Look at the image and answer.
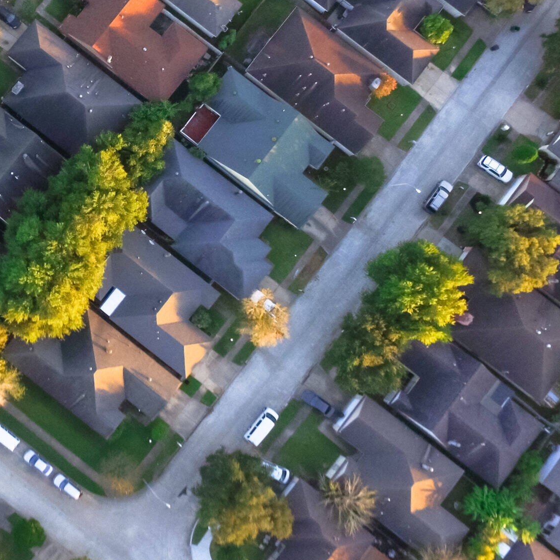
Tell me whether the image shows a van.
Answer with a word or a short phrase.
Yes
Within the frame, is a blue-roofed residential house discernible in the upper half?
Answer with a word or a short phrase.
Yes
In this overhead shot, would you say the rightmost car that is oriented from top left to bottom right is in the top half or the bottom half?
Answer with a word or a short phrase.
top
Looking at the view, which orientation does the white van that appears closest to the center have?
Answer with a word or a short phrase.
on a diagonal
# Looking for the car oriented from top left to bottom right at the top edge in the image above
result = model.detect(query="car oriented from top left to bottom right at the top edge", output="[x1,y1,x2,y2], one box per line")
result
[0,2,25,32]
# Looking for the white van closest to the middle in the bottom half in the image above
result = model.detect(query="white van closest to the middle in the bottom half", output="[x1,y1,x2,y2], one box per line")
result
[245,408,278,448]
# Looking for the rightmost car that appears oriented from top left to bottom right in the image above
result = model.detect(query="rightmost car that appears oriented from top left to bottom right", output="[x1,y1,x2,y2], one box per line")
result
[478,156,513,183]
